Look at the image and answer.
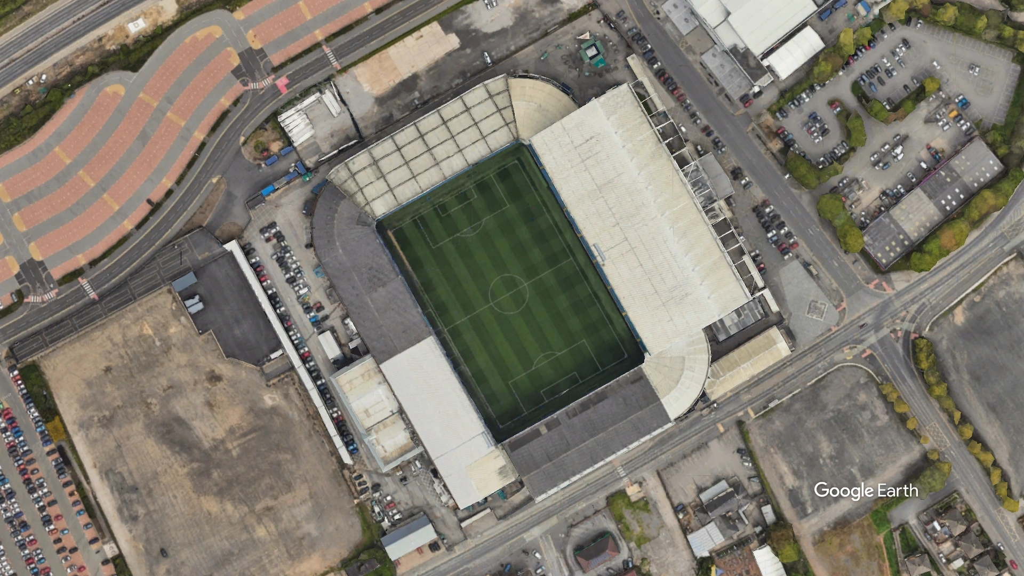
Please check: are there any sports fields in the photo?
Yes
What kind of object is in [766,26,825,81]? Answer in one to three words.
tent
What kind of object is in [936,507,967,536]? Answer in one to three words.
house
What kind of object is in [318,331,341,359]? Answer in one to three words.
building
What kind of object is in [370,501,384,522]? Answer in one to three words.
vehicle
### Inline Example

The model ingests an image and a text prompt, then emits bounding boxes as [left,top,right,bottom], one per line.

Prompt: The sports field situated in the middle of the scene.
[389,158,629,430]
